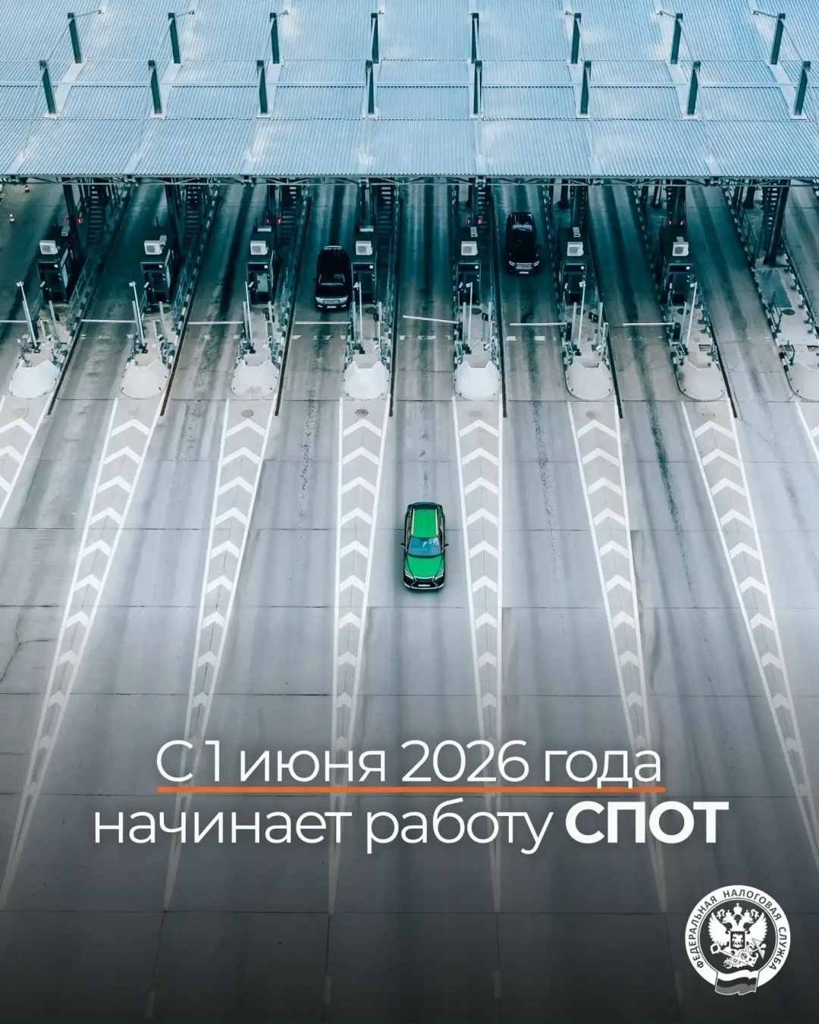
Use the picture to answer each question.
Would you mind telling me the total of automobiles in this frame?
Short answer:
three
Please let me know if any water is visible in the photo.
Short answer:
No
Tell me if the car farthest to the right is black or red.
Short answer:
black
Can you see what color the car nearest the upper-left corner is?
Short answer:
black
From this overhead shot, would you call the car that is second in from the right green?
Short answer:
Yes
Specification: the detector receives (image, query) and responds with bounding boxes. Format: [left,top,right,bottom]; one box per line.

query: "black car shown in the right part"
[501,215,542,273]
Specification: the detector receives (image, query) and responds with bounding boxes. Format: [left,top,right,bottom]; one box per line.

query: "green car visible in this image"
[397,502,451,590]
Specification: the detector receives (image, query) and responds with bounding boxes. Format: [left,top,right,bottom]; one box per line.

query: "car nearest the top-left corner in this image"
[311,245,352,308]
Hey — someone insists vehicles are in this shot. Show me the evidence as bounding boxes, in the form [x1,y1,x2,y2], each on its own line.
[501,215,542,273]
[397,502,451,590]
[311,245,352,308]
